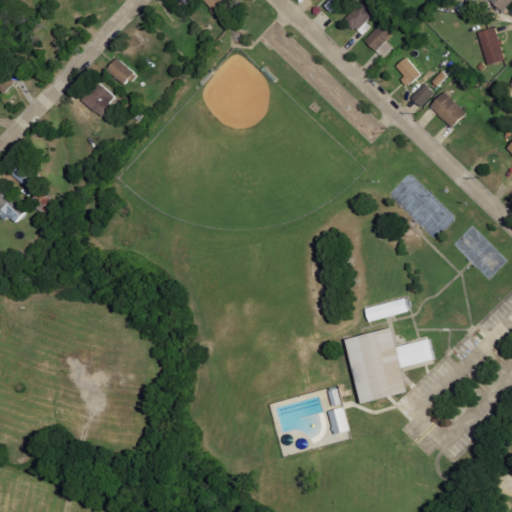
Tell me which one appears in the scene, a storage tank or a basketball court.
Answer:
basketball court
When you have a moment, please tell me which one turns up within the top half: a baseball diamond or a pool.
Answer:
baseball diamond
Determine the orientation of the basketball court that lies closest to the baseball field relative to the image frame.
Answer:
at an angle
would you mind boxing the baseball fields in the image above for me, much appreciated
[118,49,364,230]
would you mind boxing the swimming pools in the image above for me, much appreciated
[270,386,351,457]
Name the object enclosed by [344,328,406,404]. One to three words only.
building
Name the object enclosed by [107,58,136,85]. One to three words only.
house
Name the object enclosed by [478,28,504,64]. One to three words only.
house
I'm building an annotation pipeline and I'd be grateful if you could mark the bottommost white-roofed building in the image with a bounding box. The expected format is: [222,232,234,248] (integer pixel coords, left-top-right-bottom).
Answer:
[328,407,350,434]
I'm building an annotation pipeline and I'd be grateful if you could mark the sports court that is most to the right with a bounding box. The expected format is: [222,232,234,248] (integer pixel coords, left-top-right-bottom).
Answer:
[454,226,508,279]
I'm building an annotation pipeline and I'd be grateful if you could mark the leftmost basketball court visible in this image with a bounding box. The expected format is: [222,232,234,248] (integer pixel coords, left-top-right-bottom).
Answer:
[392,176,452,237]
